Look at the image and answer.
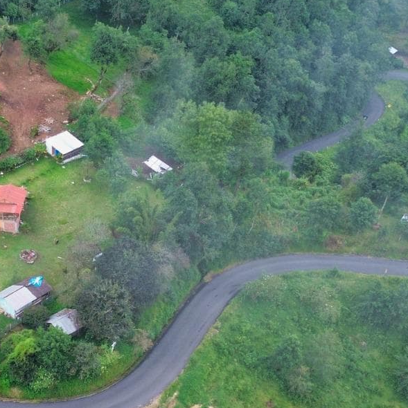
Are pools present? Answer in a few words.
No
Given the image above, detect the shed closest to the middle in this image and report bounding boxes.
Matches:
[143,156,172,180]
